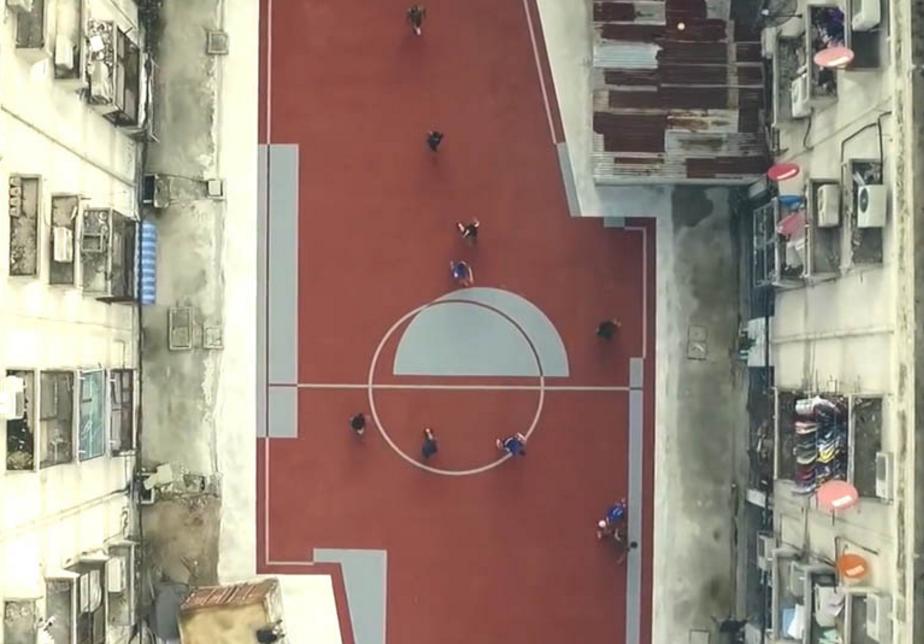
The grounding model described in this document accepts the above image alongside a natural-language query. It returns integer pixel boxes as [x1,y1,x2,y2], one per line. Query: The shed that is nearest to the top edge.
[587,0,774,192]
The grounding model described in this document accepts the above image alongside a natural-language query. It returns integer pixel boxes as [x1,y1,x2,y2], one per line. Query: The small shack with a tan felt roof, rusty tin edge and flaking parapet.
[181,575,294,644]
